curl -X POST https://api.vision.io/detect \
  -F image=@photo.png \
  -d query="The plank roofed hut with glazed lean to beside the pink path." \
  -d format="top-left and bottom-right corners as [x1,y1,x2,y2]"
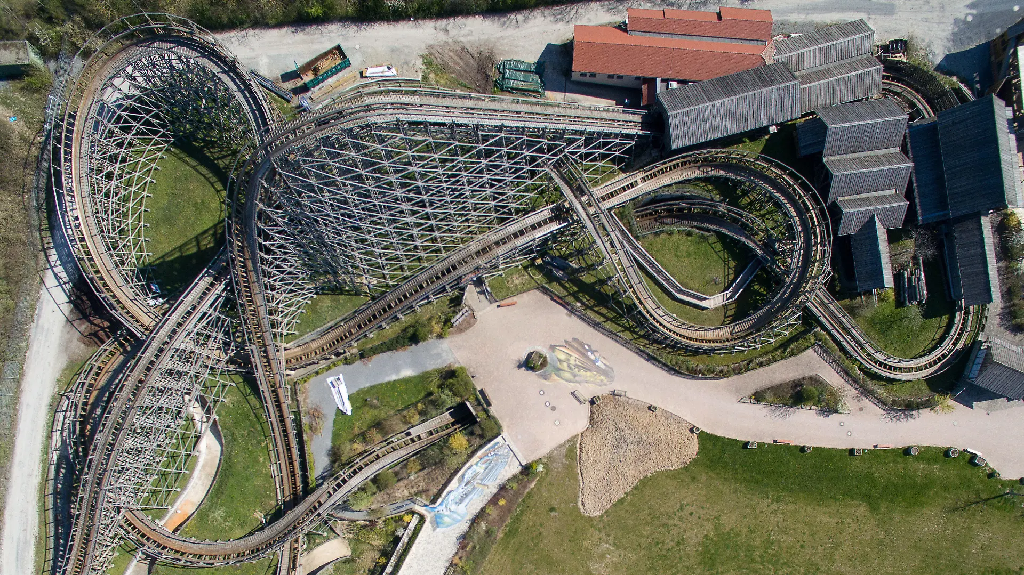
[951,336,1024,408]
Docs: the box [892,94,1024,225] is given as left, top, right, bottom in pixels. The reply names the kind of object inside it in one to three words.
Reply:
barn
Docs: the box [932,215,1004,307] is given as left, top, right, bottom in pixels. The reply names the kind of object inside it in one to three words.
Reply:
barn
